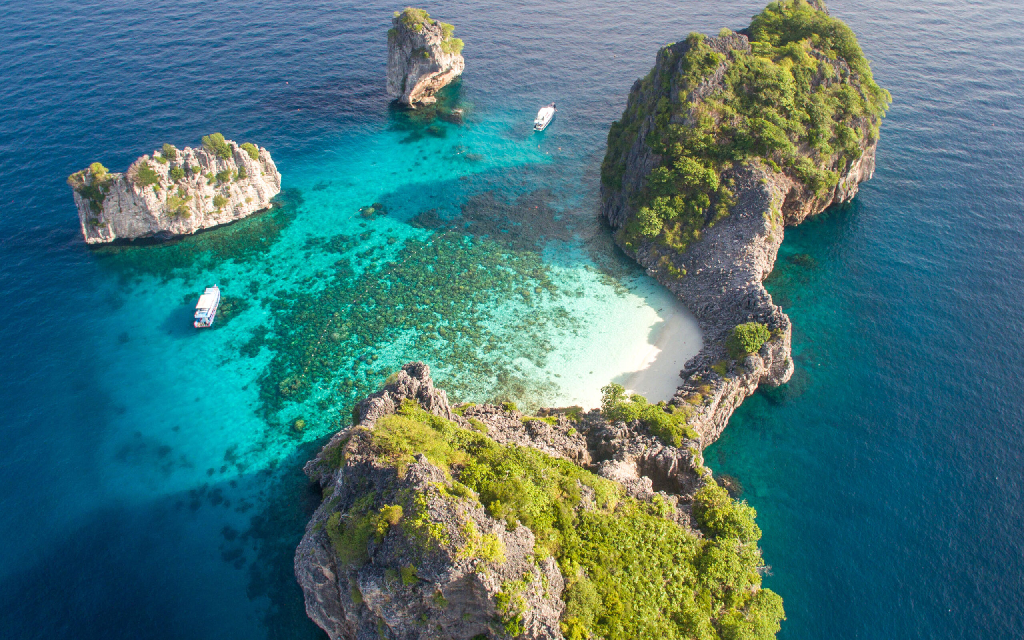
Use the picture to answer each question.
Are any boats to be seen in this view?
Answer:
Yes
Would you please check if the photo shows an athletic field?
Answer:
No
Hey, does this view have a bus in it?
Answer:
No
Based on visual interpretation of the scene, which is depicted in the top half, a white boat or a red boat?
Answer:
white boat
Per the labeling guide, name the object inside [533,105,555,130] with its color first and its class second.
white boat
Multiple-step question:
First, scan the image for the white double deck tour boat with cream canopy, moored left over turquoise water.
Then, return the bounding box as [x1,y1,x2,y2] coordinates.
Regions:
[189,283,217,330]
